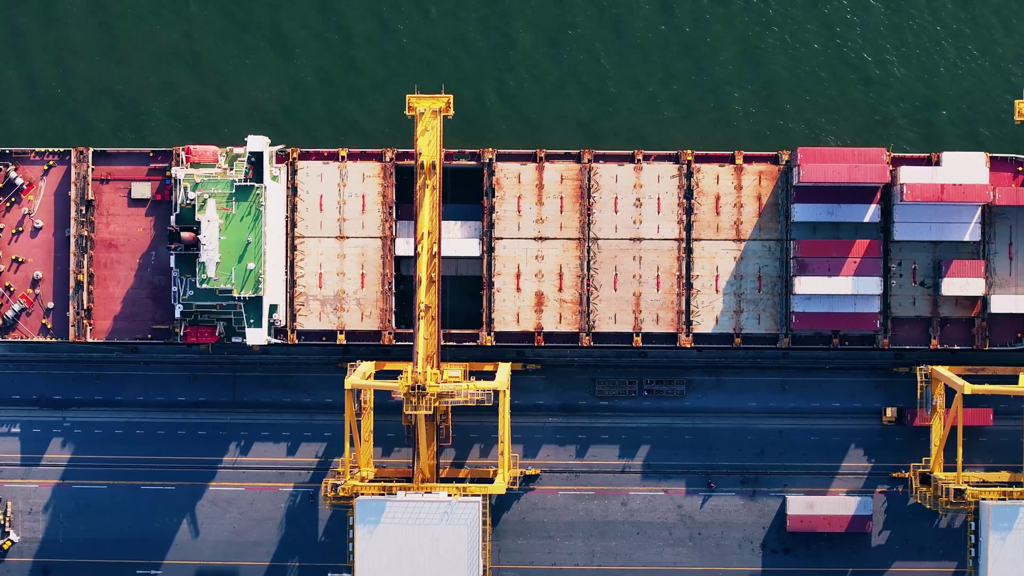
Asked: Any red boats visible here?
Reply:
Yes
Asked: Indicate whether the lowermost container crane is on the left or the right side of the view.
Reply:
right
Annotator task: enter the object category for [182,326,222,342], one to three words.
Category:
boat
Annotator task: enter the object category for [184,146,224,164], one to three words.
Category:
boat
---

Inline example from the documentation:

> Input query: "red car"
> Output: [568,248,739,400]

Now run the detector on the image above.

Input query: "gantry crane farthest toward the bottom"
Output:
[891,366,1024,576]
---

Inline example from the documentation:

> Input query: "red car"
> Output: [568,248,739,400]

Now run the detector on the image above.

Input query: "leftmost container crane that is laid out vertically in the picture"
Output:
[322,84,541,576]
